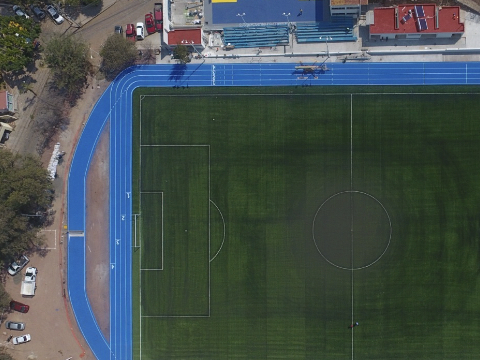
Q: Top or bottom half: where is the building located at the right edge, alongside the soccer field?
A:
top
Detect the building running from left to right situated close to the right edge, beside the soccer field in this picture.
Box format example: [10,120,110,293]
[369,4,464,39]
